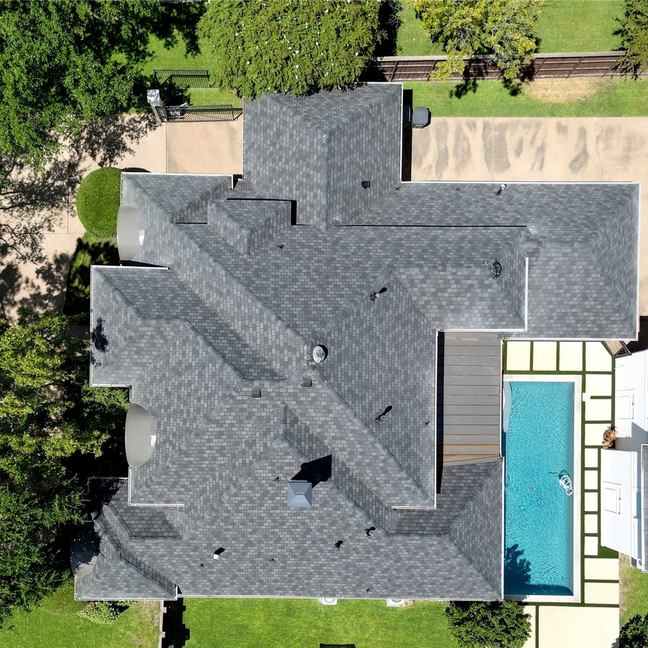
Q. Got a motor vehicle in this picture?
No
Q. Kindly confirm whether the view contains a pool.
Yes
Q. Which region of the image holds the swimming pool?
bottom right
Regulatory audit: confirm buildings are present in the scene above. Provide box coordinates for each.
[67,82,641,601]
[603,352,648,575]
